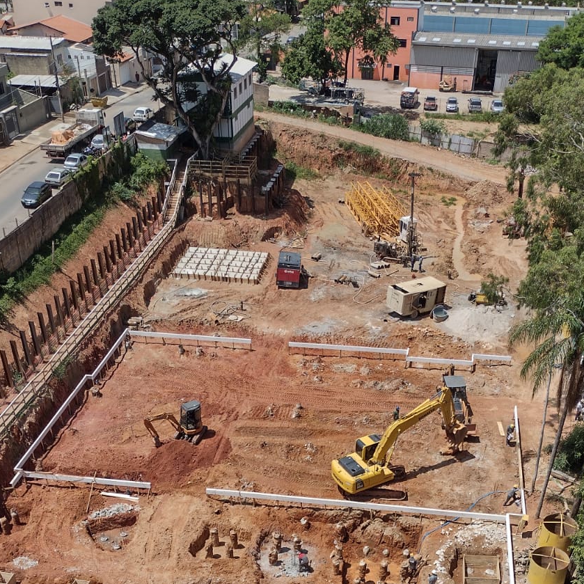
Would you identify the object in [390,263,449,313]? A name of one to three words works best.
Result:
trailer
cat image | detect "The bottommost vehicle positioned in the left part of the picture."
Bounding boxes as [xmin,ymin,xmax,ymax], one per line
[135,390,213,443]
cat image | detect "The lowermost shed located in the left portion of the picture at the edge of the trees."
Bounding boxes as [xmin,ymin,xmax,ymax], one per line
[131,115,195,172]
